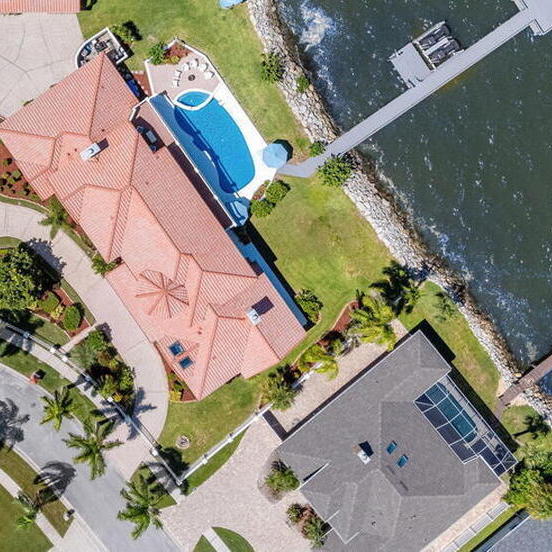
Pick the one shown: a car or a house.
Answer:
house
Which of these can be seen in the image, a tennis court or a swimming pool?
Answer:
swimming pool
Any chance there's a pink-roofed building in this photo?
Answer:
Yes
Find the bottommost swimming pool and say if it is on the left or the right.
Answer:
right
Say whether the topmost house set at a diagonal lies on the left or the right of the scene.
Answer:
left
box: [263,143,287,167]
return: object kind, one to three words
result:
umbrella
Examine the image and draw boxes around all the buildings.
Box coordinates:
[468,504,552,552]
[0,0,80,15]
[276,327,502,552]
[0,52,306,401]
